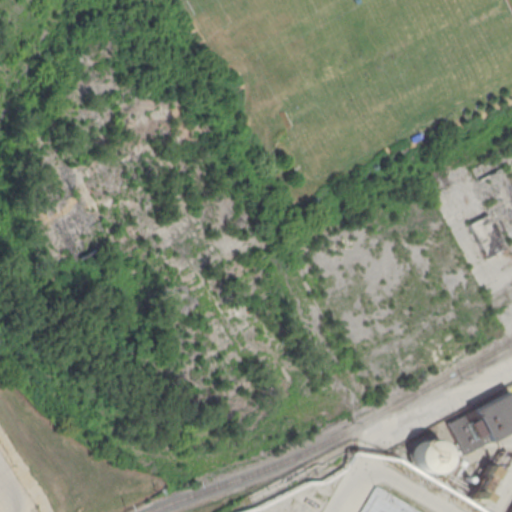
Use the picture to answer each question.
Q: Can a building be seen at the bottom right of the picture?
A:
Yes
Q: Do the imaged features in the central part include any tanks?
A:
No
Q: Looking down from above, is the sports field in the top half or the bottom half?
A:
top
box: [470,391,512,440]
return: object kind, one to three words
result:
building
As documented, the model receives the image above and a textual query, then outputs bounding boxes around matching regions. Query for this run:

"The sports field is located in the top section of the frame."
[185,0,512,204]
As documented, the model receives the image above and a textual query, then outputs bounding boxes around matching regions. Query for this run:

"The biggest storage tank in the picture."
[413,438,460,478]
